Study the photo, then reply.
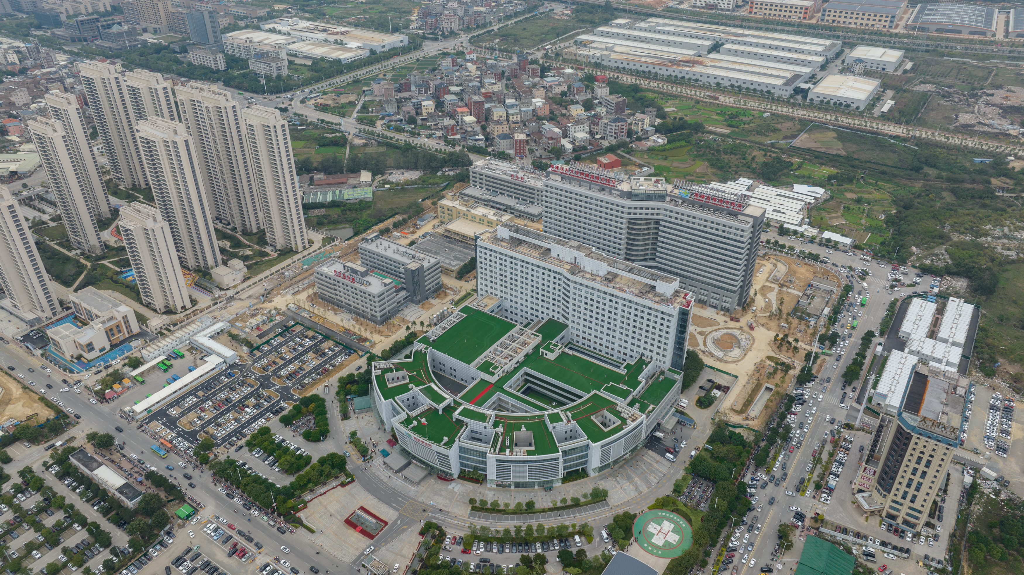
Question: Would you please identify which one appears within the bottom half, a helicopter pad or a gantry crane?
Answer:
helicopter pad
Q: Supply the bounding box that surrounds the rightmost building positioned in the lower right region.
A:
[871,365,969,530]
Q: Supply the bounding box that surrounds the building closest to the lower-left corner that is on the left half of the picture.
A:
[69,449,142,509]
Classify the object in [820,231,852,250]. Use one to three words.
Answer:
building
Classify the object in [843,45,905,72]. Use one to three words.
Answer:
building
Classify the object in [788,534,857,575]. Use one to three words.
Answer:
shed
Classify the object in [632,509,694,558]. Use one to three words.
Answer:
helipad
